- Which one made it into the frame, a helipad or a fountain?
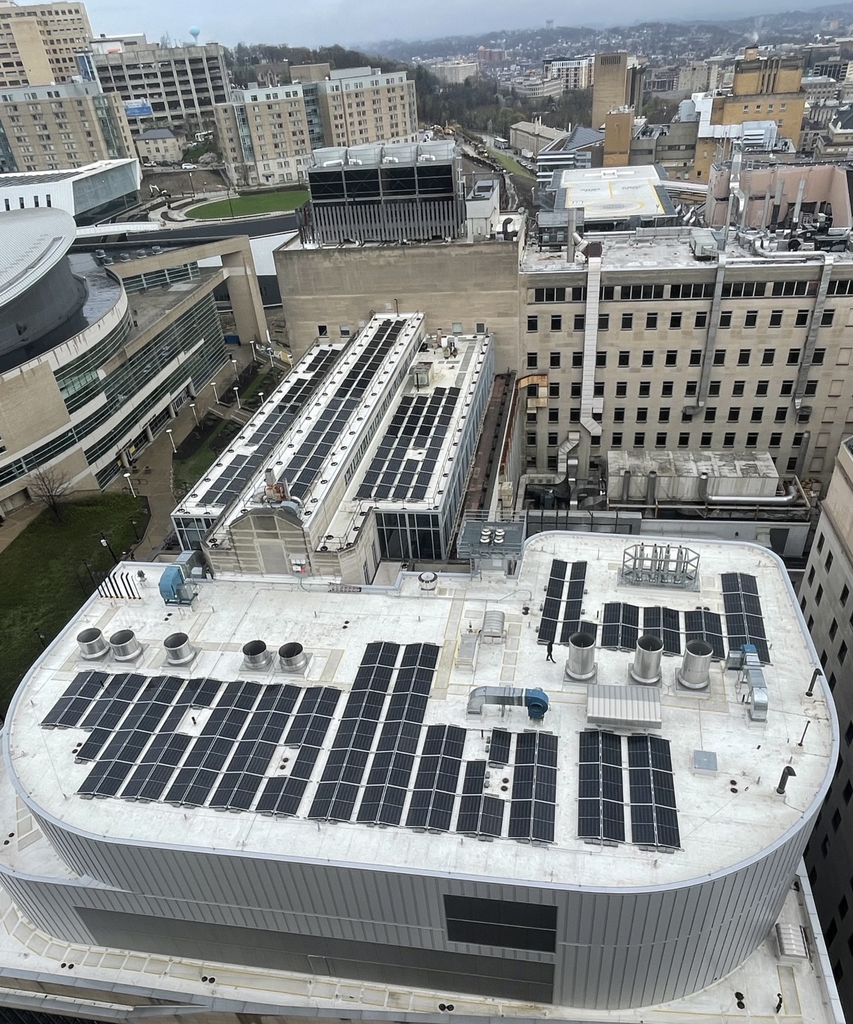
helipad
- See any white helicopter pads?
Yes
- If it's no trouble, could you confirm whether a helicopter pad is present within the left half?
No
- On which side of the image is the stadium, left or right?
left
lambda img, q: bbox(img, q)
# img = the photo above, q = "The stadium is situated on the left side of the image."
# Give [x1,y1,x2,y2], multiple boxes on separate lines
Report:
[0,208,271,552]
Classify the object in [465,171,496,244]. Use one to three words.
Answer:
shed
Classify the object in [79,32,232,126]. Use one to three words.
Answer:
building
